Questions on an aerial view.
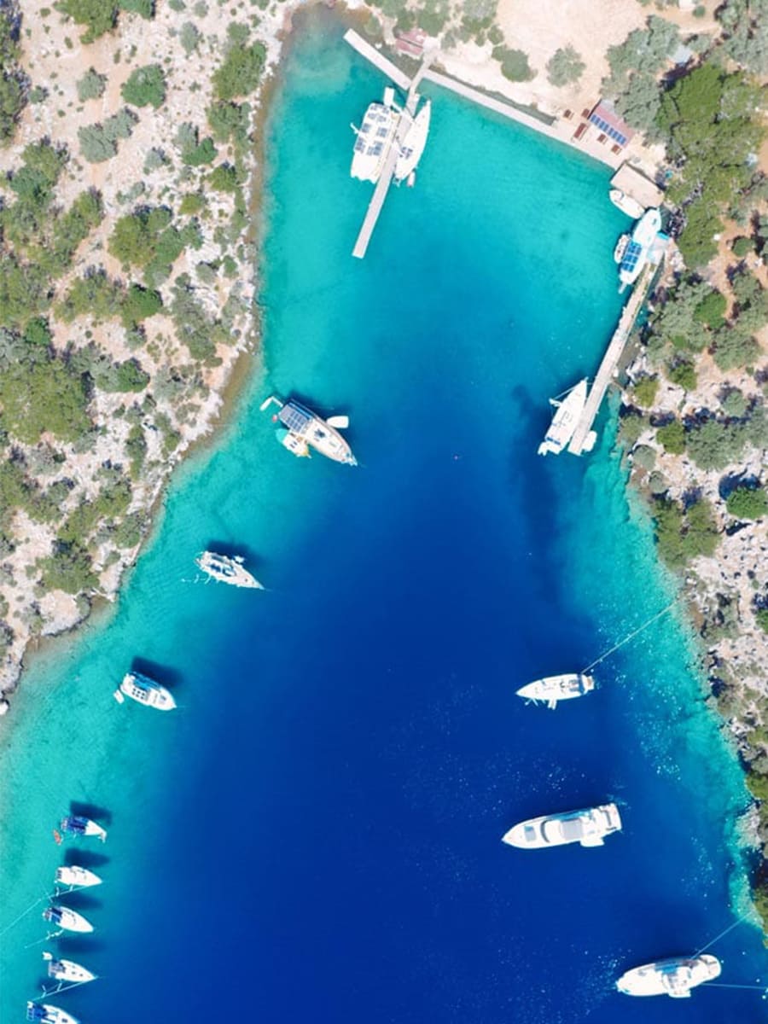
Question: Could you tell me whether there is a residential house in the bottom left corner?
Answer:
No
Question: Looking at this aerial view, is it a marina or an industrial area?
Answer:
marina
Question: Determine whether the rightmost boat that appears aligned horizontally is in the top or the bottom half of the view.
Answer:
bottom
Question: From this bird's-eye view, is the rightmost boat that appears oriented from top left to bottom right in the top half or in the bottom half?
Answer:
top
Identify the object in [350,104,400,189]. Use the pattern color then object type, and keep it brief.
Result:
white boat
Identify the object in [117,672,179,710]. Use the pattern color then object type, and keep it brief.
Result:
white boat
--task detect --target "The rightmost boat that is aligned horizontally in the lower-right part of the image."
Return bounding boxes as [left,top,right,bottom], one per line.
[615,952,722,1000]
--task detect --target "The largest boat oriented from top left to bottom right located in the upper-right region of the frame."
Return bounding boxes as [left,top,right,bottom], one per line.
[610,192,644,221]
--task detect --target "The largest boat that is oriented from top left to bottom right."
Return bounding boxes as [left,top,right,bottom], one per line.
[269,398,361,467]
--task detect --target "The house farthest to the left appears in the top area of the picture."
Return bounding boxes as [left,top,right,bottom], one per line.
[396,28,428,63]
